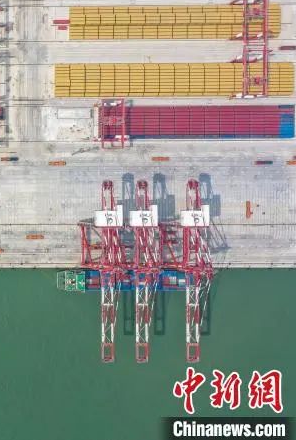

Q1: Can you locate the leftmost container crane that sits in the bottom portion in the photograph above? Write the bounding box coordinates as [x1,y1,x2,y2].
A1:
[79,177,124,361]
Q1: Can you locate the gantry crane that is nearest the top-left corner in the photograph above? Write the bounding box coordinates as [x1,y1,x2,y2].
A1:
[92,97,125,148]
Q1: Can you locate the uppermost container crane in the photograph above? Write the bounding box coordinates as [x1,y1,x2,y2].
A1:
[228,0,268,43]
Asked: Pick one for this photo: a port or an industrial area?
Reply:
port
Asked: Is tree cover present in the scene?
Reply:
No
